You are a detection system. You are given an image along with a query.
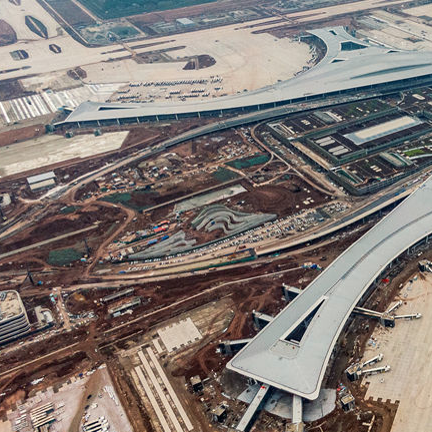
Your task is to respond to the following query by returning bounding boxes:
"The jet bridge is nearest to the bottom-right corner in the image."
[336,353,392,378]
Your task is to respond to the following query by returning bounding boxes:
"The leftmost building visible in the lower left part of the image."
[0,289,31,346]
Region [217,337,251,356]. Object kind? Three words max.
jet bridge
